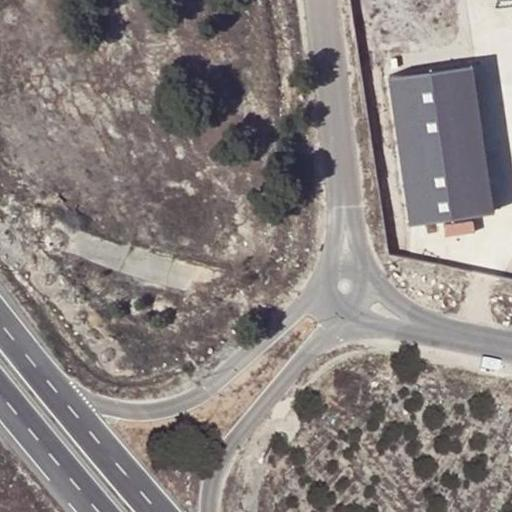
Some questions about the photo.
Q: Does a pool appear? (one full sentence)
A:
No, I can't see a single pool in this photo.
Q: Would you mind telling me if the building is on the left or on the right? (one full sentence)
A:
The building sits on the right side.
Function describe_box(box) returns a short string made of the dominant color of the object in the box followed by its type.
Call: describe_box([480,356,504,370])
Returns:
white vehicle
